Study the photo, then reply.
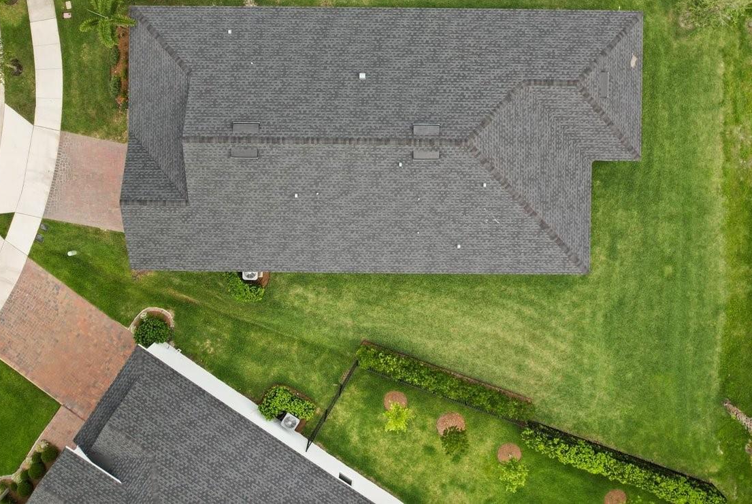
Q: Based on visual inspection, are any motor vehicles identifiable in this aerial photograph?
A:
No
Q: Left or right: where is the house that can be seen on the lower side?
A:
left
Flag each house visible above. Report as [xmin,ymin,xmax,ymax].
[118,4,645,275]
[23,341,405,504]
